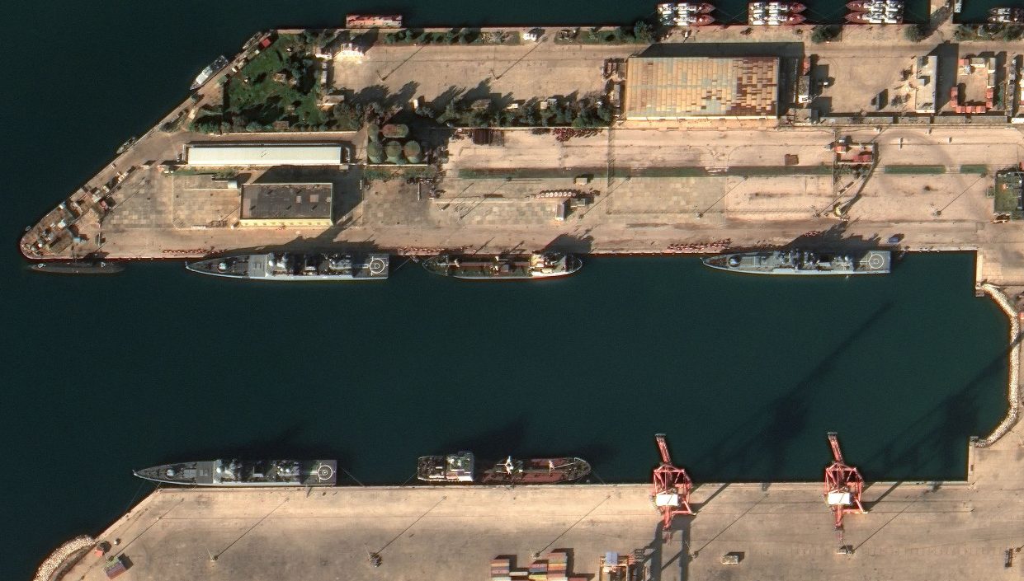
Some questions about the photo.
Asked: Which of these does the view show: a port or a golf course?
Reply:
port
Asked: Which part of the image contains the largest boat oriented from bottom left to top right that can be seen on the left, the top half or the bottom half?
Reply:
top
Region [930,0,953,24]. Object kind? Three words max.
pier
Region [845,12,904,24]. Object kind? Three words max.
boat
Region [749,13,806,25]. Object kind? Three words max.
boat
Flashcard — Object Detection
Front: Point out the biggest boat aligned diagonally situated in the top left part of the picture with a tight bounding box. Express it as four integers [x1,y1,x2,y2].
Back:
[190,55,230,90]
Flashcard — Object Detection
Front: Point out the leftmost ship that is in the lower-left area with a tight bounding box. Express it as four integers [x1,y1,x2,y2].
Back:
[134,459,338,487]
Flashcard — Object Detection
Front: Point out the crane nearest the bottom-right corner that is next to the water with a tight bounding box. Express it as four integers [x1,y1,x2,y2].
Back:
[823,437,868,544]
